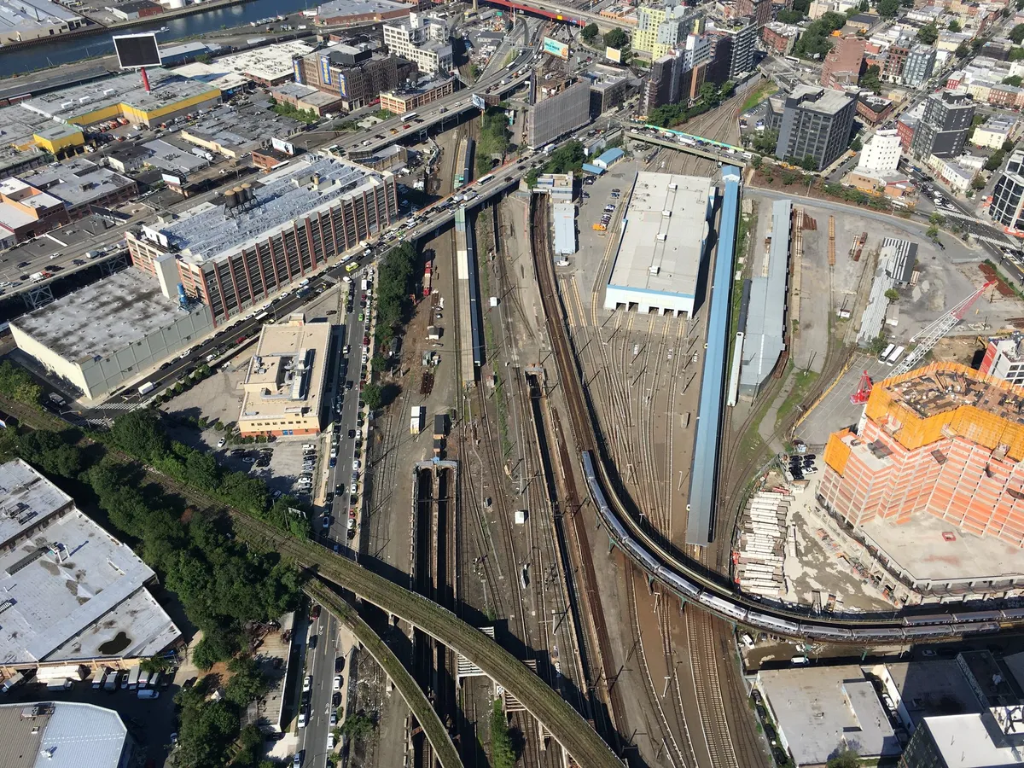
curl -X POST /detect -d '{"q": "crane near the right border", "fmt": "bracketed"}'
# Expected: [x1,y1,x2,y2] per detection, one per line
[847,281,996,405]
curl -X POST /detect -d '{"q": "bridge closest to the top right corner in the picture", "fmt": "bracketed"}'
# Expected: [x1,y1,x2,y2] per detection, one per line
[625,121,763,177]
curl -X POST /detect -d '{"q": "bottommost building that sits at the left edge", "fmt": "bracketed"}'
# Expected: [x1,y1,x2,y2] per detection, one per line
[0,701,136,768]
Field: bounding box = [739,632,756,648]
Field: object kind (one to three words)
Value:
vehicle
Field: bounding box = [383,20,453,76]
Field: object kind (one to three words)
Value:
building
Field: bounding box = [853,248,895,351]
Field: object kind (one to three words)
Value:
shed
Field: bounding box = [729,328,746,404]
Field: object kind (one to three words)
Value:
rail car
